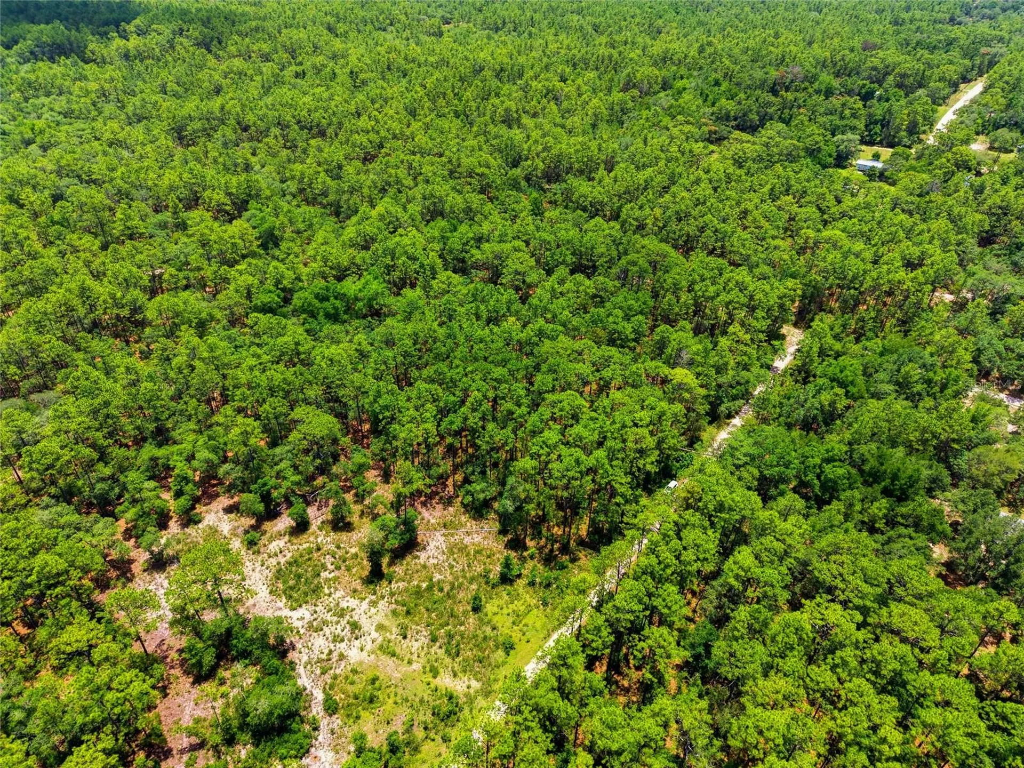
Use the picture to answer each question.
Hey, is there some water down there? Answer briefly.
No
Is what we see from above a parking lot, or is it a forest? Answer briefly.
forest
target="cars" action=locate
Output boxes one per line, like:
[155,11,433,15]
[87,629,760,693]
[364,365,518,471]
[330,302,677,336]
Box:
[664,477,679,495]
